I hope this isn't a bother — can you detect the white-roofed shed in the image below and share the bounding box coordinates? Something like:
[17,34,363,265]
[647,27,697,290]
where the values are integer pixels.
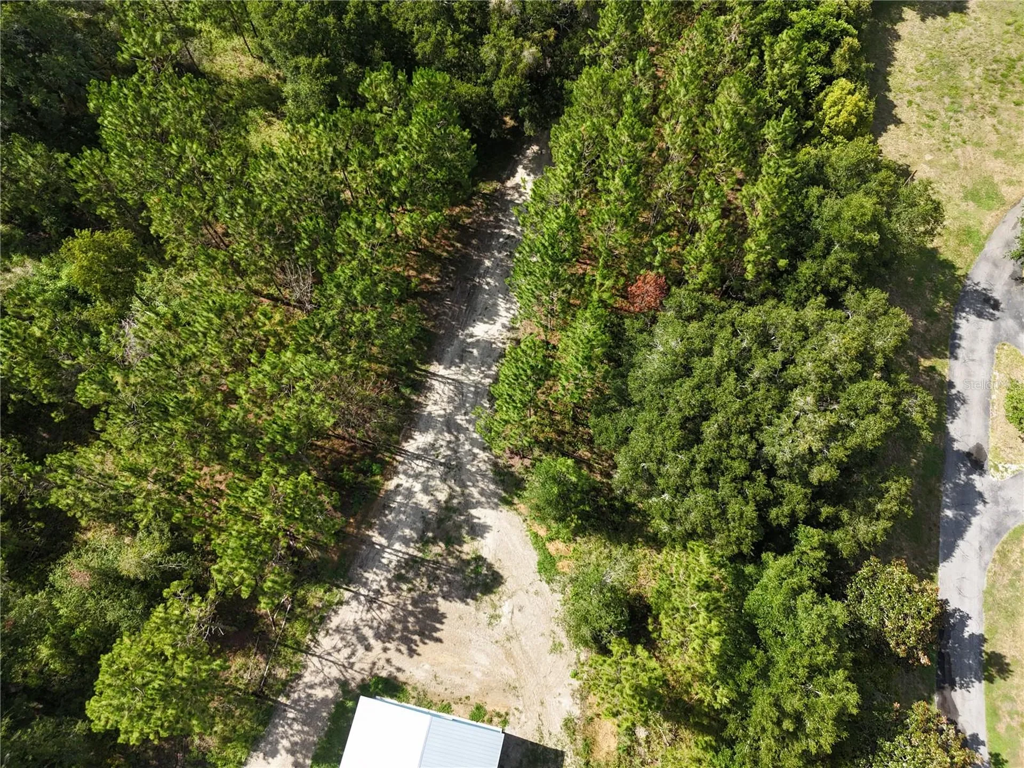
[338,688,505,768]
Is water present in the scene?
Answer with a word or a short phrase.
No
